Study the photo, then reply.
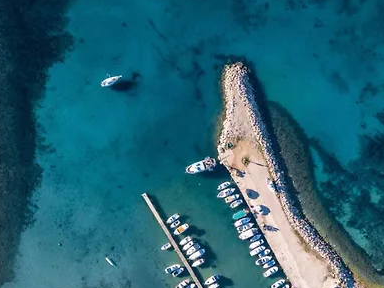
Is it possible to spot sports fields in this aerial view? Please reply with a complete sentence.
No, no sports field is visible in the scene.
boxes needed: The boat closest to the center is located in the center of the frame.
[185,157,219,172]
